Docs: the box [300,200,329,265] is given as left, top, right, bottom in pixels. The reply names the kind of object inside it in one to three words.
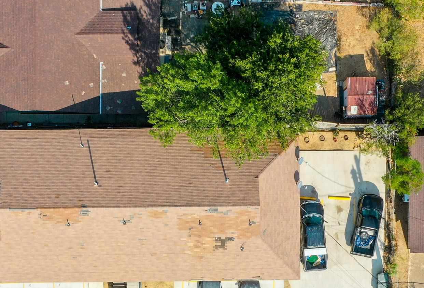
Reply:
truck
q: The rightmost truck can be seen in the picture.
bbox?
[349,192,384,259]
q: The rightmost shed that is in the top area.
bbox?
[343,77,377,118]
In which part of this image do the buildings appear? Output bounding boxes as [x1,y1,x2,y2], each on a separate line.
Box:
[343,77,377,118]
[401,135,424,253]
[0,0,161,114]
[0,129,325,283]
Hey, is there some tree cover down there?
Yes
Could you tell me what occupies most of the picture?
buildings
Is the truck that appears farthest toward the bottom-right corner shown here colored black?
Yes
